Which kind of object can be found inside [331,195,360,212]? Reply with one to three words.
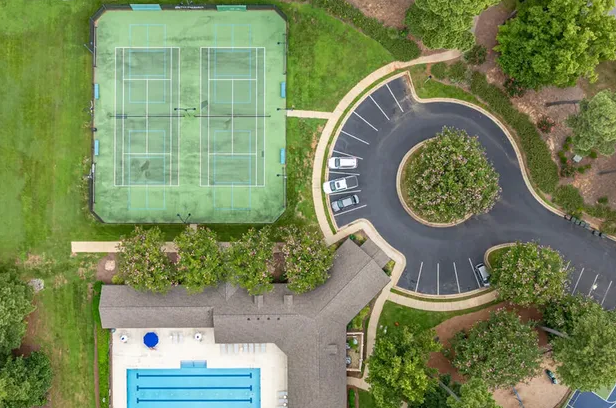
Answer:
car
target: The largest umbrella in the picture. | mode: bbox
[144,332,159,348]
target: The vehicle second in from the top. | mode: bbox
[322,177,358,194]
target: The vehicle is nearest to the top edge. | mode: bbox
[328,156,357,170]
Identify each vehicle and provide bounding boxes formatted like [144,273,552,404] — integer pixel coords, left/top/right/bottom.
[331,195,360,212]
[328,156,357,170]
[322,177,358,194]
[475,261,491,287]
